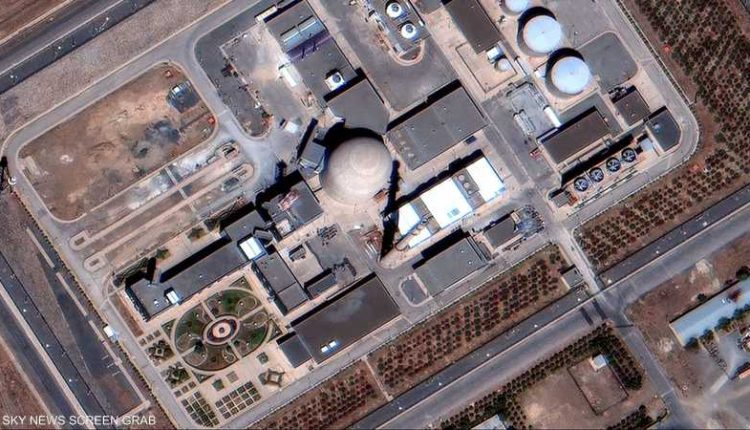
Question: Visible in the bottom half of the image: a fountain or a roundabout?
fountain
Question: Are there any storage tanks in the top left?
No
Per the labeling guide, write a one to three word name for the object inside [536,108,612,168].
building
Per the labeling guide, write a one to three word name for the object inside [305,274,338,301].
shed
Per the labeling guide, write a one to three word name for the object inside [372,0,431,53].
house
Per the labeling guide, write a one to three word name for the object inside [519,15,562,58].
storage tank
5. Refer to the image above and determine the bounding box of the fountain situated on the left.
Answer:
[206,317,236,343]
